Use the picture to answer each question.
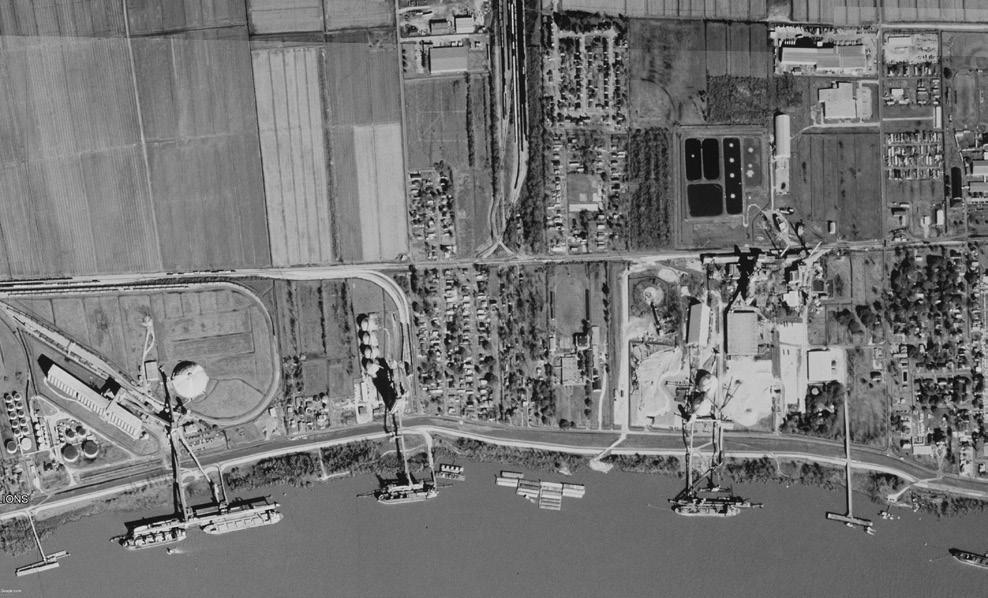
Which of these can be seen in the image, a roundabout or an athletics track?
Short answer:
athletics track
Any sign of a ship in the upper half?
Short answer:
No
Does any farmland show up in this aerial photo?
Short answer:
Yes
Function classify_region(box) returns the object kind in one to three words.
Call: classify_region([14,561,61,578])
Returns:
ship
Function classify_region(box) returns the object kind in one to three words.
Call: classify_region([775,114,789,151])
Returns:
barn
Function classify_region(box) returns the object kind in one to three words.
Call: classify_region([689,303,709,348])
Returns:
building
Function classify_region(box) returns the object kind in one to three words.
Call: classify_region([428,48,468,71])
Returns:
barn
